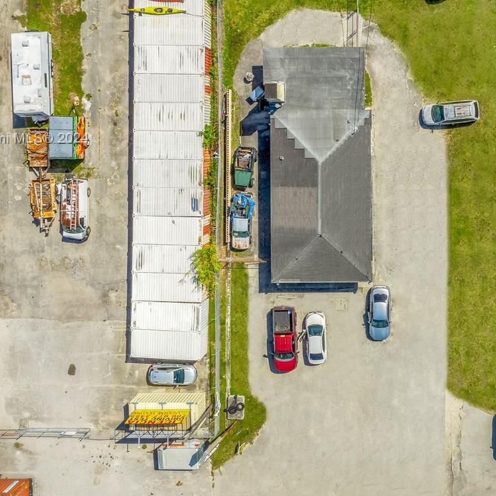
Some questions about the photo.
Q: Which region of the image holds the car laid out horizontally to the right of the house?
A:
top right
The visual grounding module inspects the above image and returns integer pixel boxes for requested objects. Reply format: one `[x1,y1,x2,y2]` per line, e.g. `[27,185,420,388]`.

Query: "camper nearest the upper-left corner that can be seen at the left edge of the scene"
[11,33,60,129]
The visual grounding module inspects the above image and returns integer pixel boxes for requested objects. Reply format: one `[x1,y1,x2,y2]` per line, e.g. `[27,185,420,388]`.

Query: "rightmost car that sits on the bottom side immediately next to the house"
[366,286,392,342]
